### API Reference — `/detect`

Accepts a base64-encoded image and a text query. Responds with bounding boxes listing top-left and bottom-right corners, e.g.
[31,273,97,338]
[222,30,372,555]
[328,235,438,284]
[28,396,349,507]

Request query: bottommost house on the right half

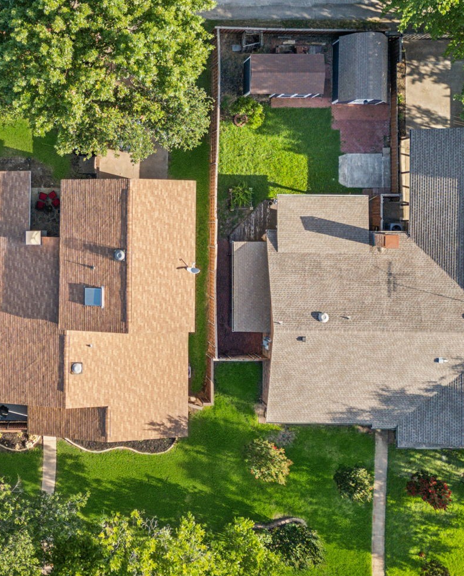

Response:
[232,129,464,447]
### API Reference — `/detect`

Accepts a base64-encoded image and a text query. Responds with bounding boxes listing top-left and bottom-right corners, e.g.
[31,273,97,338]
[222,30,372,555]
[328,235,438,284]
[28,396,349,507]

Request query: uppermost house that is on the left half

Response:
[0,172,195,441]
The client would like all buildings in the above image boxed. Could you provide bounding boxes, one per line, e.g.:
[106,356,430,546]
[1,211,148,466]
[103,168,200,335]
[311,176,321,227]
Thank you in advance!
[330,33,395,107]
[232,129,464,447]
[0,172,195,441]
[243,53,326,100]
